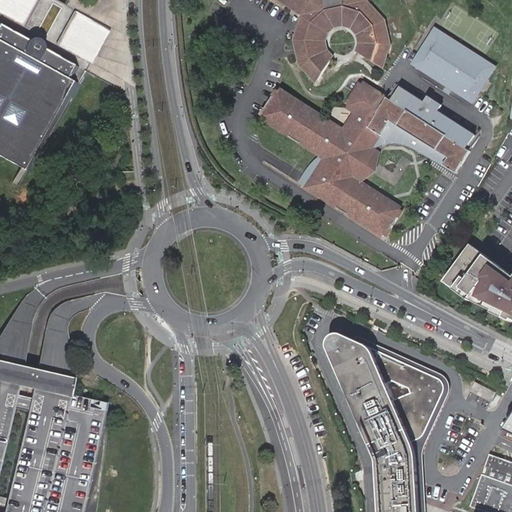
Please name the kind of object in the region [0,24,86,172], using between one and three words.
building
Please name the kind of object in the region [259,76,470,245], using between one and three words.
building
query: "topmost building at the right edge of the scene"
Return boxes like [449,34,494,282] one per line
[410,22,498,105]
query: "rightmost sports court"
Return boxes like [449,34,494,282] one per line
[440,3,499,54]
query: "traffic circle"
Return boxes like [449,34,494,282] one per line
[140,204,273,338]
